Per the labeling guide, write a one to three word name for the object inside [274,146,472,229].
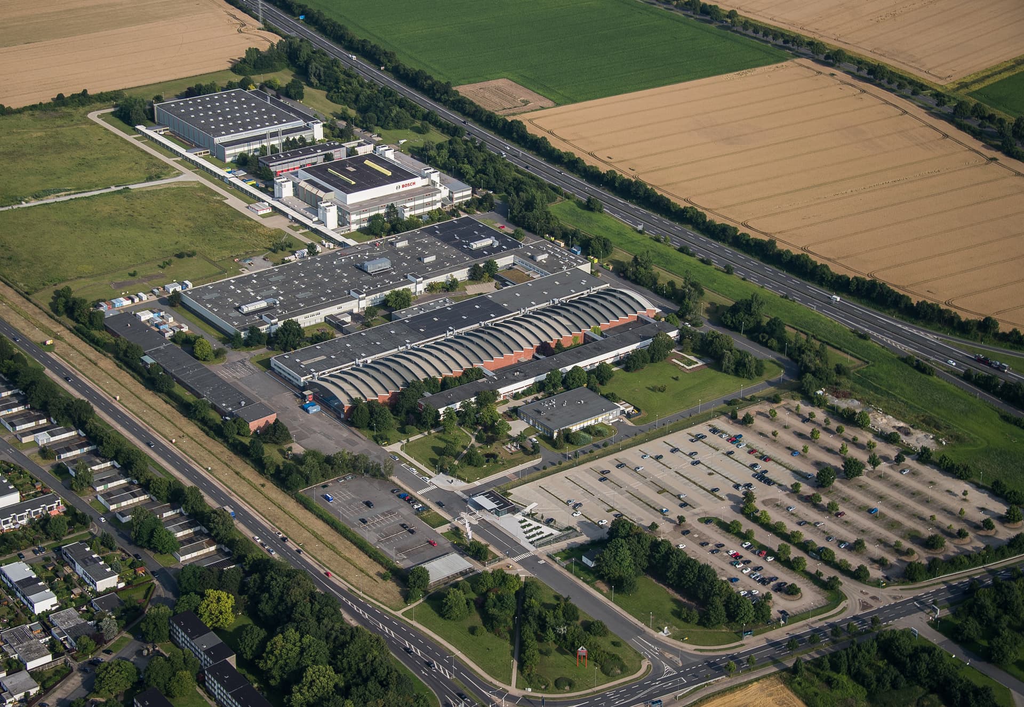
building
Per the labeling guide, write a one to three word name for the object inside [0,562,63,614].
house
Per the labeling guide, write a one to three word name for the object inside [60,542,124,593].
house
